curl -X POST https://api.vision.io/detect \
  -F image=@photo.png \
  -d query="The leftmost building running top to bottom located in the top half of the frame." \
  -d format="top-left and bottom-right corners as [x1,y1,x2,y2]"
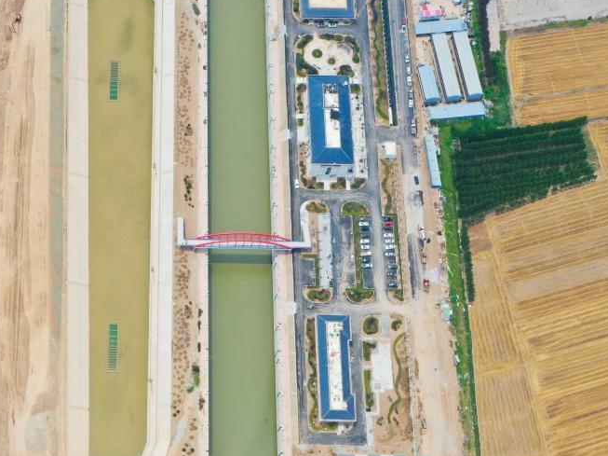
[308,75,354,167]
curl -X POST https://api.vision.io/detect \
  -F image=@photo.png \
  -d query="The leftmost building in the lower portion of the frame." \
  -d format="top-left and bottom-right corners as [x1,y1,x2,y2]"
[315,314,355,424]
